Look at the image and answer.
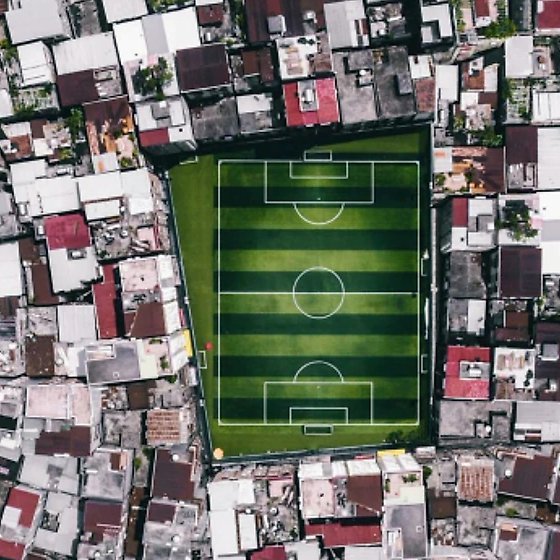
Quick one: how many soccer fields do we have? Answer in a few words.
1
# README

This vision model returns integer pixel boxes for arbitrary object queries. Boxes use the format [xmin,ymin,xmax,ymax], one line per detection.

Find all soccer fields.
[169,125,433,463]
